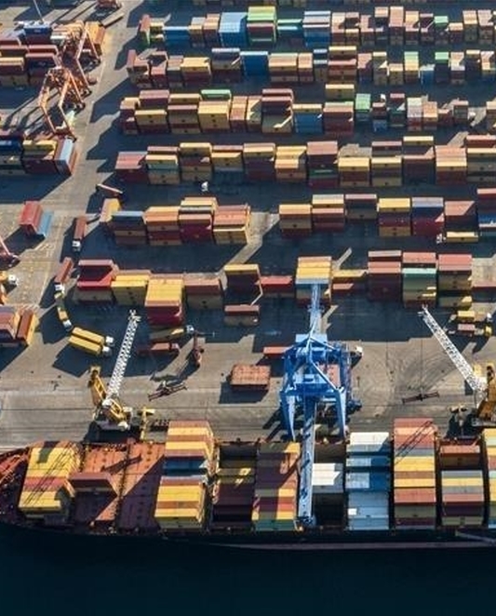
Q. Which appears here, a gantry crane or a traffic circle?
gantry crane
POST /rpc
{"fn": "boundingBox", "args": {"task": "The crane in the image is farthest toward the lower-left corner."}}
[86,310,149,444]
